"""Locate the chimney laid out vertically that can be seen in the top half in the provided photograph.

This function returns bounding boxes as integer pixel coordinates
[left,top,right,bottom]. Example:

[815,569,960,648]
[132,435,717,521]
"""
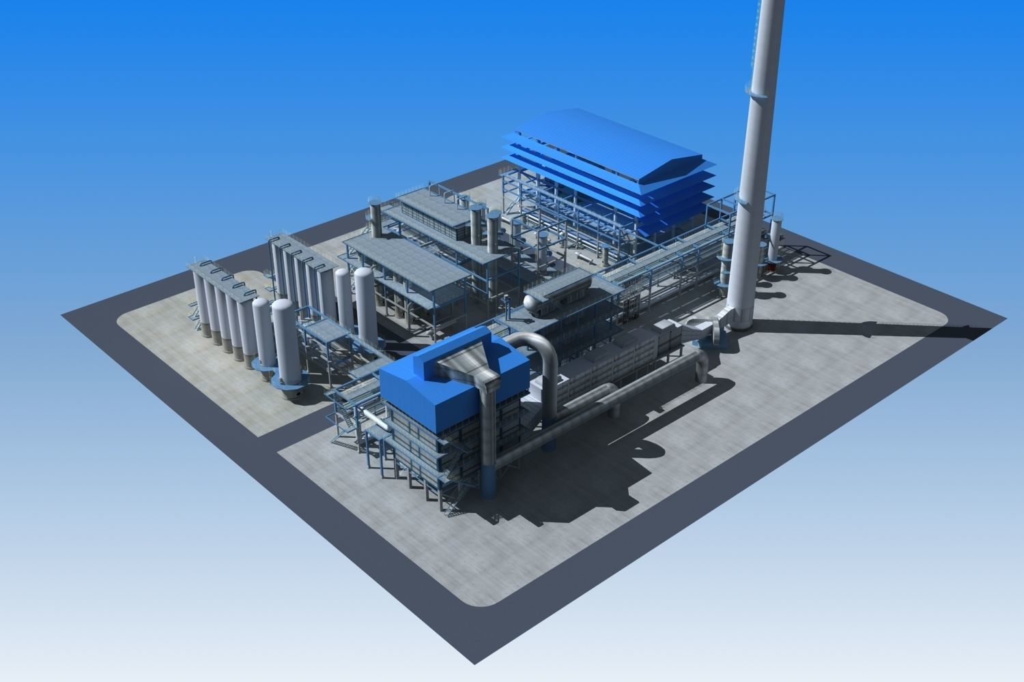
[725,0,787,333]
